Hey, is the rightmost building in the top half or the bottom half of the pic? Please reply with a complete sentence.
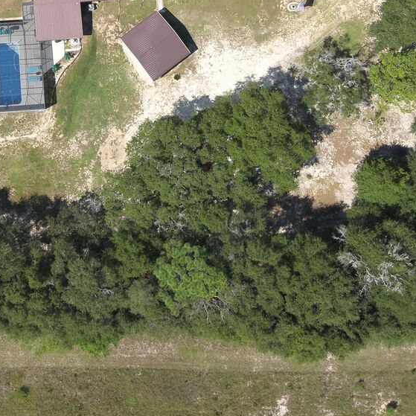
Seen from above, the rightmost building lies in the top half of the view.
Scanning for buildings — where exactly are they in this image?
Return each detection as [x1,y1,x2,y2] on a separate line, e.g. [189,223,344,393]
[120,10,192,84]
[33,0,102,41]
